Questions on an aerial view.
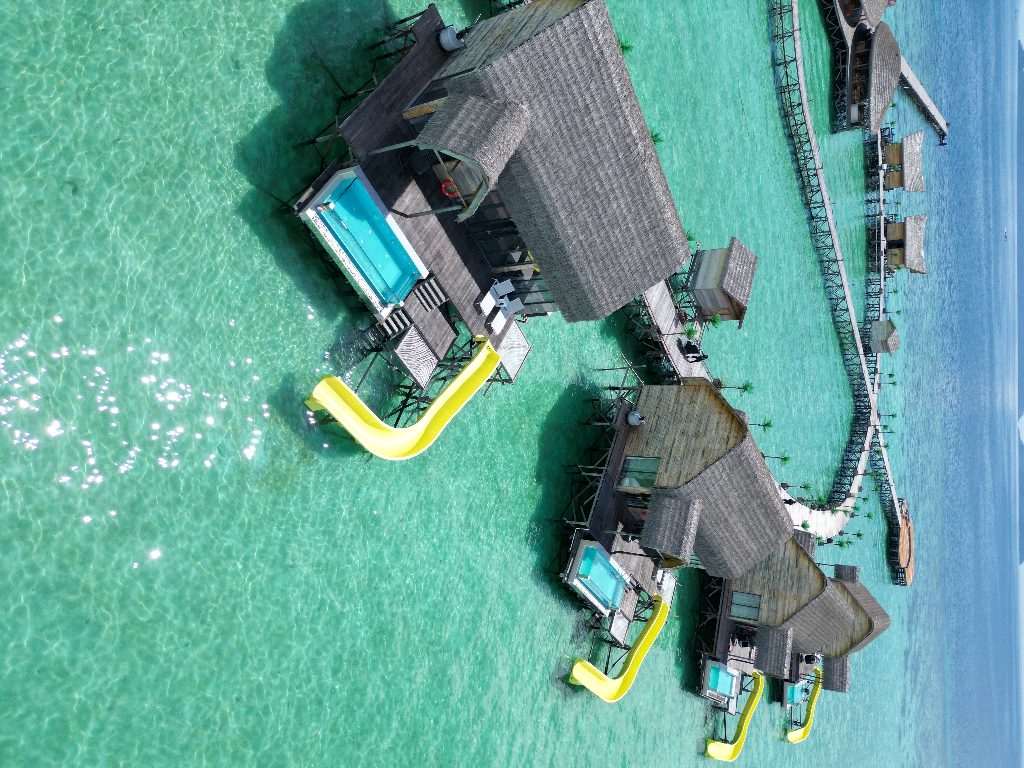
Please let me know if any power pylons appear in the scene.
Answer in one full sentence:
No, there is no power pylon in the image.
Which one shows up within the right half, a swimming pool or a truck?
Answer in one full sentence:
You can see a swimming pool within the right half.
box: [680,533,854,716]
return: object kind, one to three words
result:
house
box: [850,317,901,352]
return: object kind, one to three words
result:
shed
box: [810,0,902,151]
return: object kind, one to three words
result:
building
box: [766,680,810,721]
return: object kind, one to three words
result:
swimming pool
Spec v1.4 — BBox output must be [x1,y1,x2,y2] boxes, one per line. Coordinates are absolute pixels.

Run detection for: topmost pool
[245,156,431,338]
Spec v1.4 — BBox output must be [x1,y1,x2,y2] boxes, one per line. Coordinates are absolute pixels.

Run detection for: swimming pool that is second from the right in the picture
[678,657,742,720]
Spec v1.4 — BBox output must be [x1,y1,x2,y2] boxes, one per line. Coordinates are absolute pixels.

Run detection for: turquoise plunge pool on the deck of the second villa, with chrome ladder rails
[531,534,632,635]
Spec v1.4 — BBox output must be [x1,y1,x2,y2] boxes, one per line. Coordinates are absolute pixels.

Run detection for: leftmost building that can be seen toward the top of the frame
[282,0,693,409]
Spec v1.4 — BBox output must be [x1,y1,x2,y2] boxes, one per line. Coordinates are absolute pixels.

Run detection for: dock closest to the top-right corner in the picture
[896,51,948,139]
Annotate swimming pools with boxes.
[678,657,742,720]
[766,680,810,721]
[531,534,632,635]
[245,156,431,338]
